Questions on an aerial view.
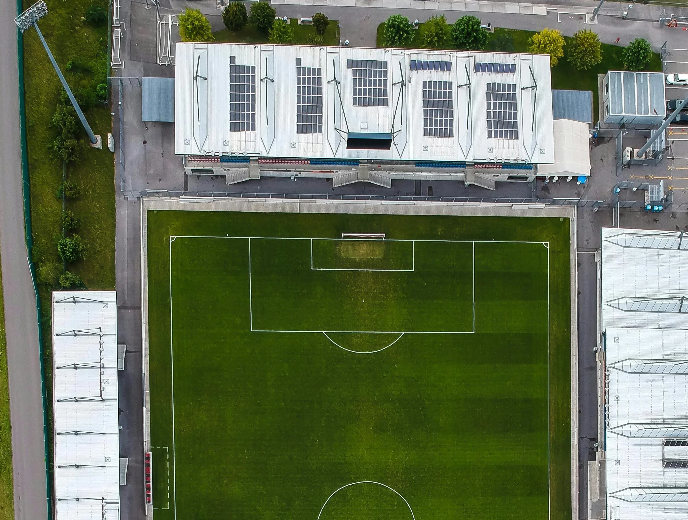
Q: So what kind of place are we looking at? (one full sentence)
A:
The picture captures a sports ground.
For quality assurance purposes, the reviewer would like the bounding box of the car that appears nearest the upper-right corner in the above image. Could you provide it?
[667,71,688,85]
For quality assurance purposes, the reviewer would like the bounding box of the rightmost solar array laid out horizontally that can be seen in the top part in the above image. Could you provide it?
[475,59,517,74]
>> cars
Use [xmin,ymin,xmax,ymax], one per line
[669,113,688,126]
[667,71,688,85]
[669,97,688,111]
